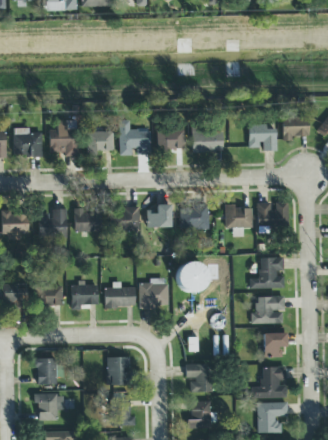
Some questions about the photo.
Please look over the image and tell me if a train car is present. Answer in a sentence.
No, no train car can be seen from above.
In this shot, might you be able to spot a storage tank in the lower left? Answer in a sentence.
No, there's no storage tank to be seen in the lower left.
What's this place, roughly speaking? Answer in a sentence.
This image shows a residential area.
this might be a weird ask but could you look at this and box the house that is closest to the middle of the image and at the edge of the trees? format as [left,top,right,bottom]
[146,204,174,229]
